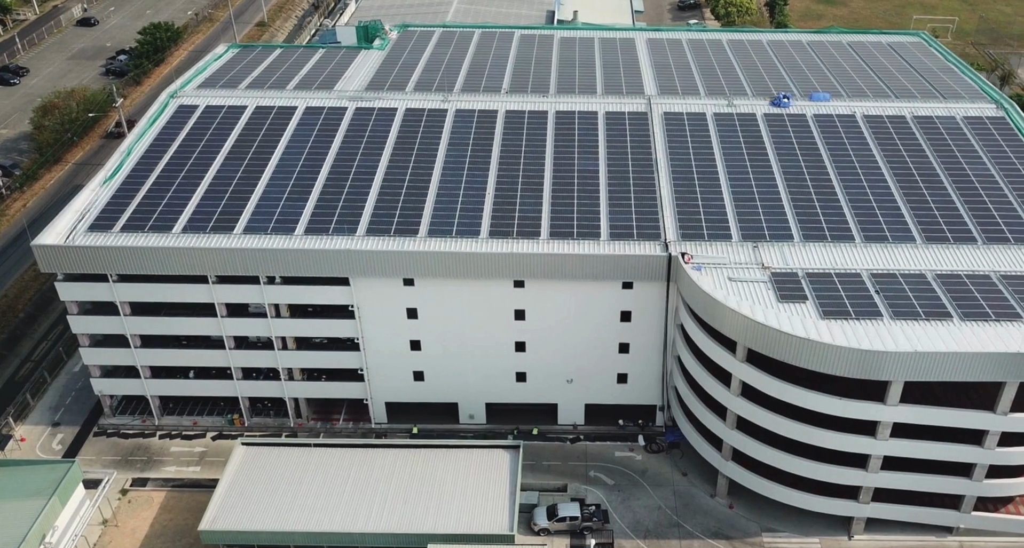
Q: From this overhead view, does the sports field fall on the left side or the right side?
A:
right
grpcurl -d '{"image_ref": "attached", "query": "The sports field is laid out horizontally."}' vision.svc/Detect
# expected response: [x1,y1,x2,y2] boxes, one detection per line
[731,0,1024,75]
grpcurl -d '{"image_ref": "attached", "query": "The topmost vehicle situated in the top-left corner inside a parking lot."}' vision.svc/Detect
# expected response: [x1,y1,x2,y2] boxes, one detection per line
[71,13,100,26]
